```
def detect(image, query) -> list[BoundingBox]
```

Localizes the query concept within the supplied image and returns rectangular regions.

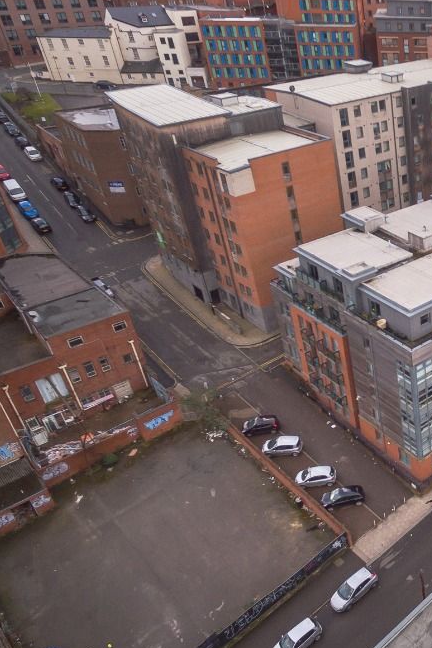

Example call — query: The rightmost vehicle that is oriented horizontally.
[317,484,369,510]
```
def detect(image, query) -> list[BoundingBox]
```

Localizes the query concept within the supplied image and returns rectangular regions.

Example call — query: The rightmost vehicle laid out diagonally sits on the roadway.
[329,566,381,614]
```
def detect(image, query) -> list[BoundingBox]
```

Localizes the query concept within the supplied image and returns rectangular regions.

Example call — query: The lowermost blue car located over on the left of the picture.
[16,199,39,219]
